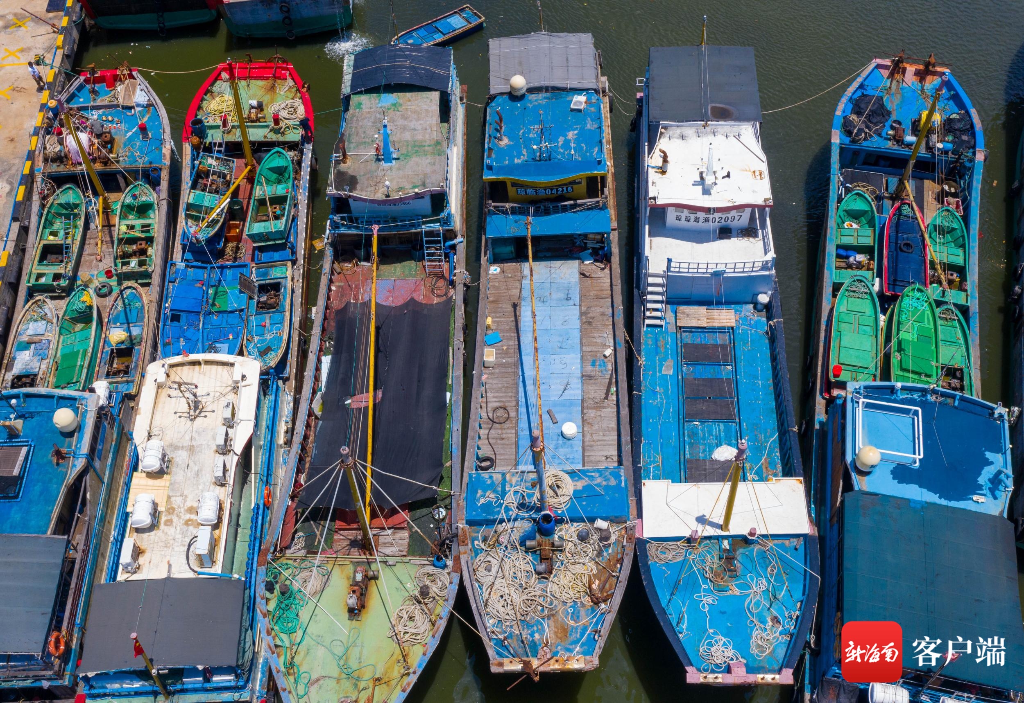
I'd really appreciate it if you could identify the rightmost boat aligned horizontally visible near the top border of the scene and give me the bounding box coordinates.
[392,6,483,43]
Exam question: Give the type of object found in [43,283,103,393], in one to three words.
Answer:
boat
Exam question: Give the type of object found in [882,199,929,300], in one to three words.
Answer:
boat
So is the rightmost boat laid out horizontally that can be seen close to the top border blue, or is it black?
blue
